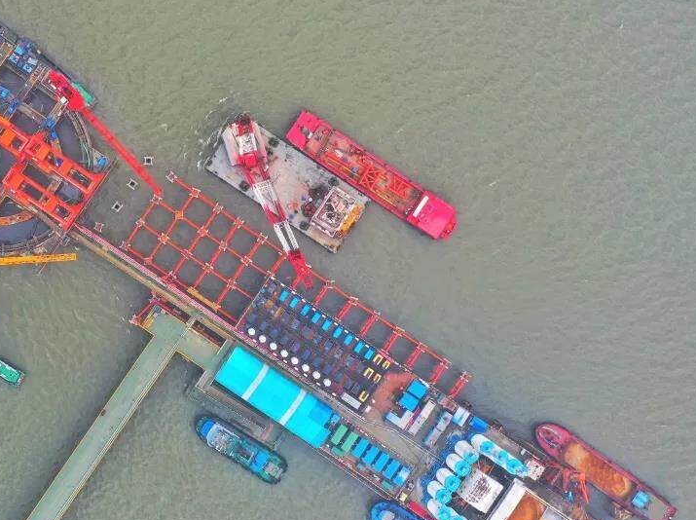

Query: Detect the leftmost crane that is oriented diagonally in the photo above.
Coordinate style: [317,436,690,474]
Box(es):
[47,69,165,201]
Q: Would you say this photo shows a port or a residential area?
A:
port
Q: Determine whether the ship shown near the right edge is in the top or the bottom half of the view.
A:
bottom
